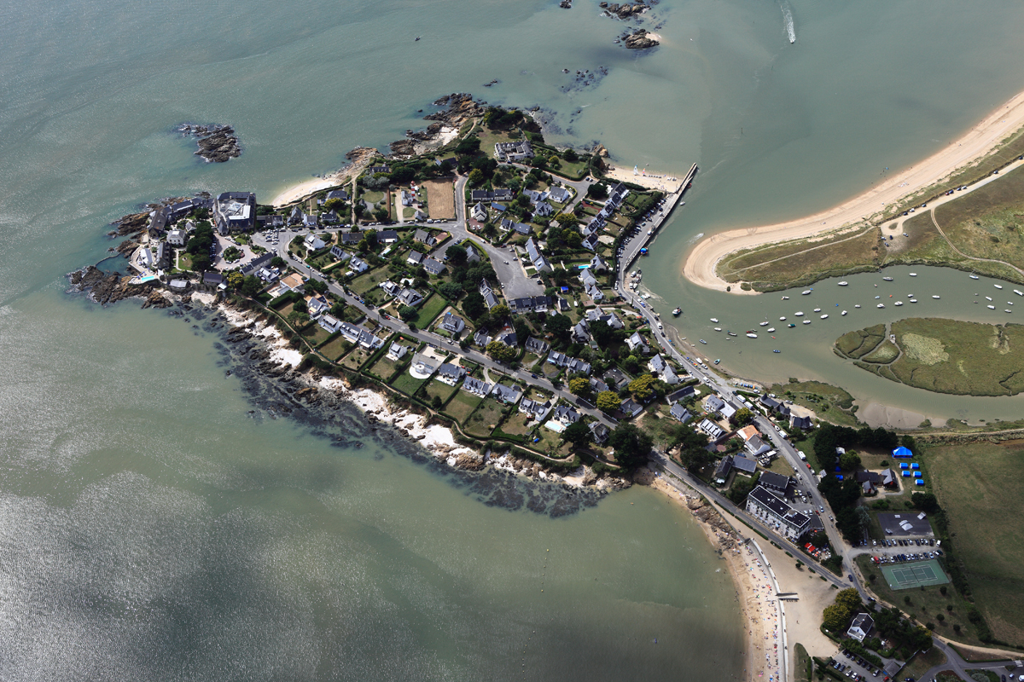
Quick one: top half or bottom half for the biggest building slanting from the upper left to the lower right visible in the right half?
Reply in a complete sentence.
You can find the biggest building slanting from the upper left to the lower right visible in the right half in the bottom half.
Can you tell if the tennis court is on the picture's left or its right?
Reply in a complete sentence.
It is on the right.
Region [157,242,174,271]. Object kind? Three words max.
house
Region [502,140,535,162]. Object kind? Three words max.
shed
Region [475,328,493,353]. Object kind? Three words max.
house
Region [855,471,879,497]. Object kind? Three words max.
building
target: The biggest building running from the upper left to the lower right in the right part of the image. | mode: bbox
[747,485,810,539]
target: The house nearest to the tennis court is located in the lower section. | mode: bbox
[844,615,874,644]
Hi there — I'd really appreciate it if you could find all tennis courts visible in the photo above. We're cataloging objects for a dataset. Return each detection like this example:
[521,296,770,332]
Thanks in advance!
[881,555,950,591]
